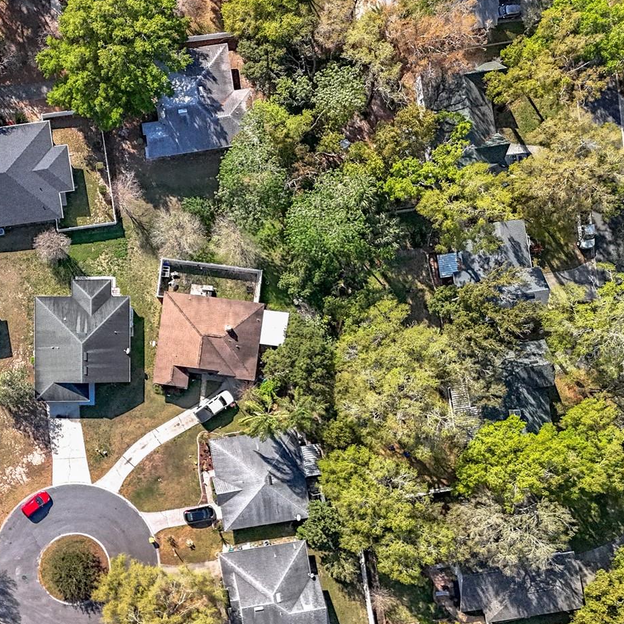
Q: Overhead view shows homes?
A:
Yes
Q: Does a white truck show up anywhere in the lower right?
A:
No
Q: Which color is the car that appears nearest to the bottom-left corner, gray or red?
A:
red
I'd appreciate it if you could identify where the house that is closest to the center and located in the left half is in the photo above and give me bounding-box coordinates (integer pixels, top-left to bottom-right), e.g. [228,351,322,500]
[153,291,265,389]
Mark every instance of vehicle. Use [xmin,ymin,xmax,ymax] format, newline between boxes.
[21,491,53,516]
[183,506,216,522]
[576,216,597,251]
[496,2,520,20]
[192,389,237,425]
